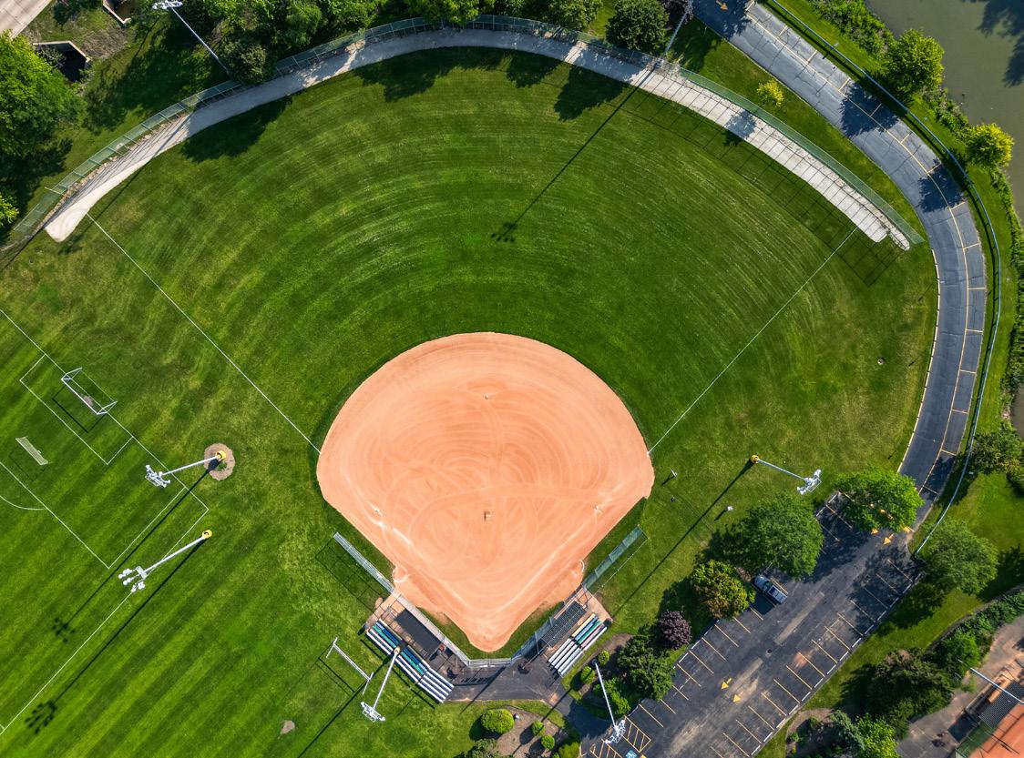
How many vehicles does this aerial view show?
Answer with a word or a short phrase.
1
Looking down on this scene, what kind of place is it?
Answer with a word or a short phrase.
sports ground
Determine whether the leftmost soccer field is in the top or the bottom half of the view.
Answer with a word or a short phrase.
bottom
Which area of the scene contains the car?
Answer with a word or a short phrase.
bottom right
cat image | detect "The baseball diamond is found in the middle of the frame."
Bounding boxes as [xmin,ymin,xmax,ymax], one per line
[27,18,913,653]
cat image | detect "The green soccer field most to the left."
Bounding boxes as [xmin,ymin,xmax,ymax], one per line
[0,309,208,730]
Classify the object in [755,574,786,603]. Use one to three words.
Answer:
car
